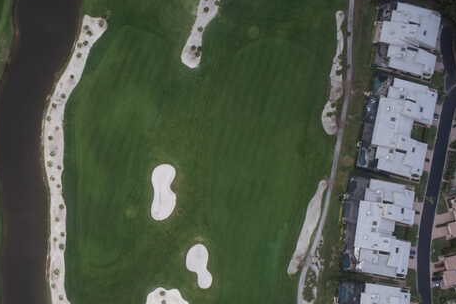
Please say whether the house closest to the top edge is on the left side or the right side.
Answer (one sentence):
The house closest to the top edge sits on the right side.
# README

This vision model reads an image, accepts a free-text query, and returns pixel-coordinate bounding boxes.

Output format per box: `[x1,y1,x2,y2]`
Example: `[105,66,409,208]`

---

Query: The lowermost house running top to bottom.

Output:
[441,255,456,291]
